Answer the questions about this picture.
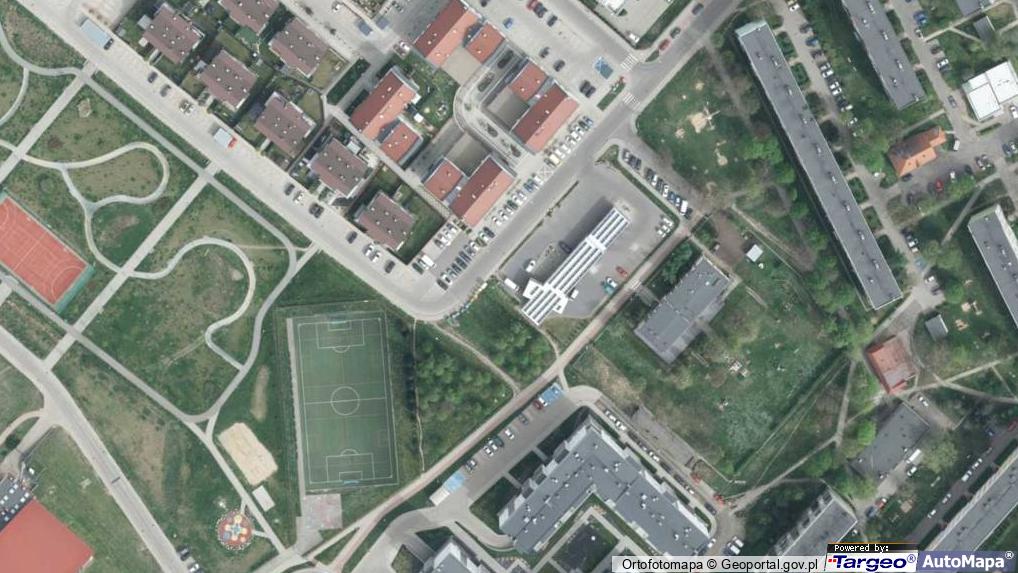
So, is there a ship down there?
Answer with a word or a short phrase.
No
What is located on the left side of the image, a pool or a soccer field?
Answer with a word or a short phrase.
soccer field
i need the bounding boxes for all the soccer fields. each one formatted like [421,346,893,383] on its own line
[293,314,400,490]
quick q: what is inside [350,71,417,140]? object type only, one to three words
house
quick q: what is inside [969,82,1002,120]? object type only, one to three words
building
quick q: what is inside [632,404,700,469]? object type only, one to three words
building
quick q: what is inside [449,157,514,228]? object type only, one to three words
house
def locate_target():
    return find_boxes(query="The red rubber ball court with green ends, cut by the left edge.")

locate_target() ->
[0,190,94,312]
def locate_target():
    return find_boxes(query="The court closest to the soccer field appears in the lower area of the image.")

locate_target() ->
[218,422,278,485]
